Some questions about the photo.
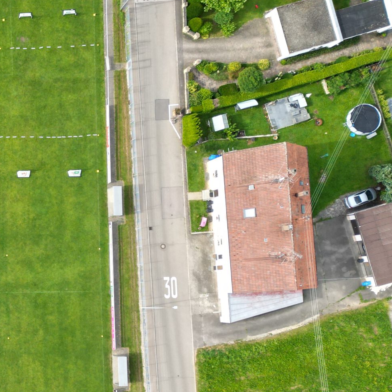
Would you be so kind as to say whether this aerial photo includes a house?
Yes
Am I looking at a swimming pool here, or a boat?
swimming pool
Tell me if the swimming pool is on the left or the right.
right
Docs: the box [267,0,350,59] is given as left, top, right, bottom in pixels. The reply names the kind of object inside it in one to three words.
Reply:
building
